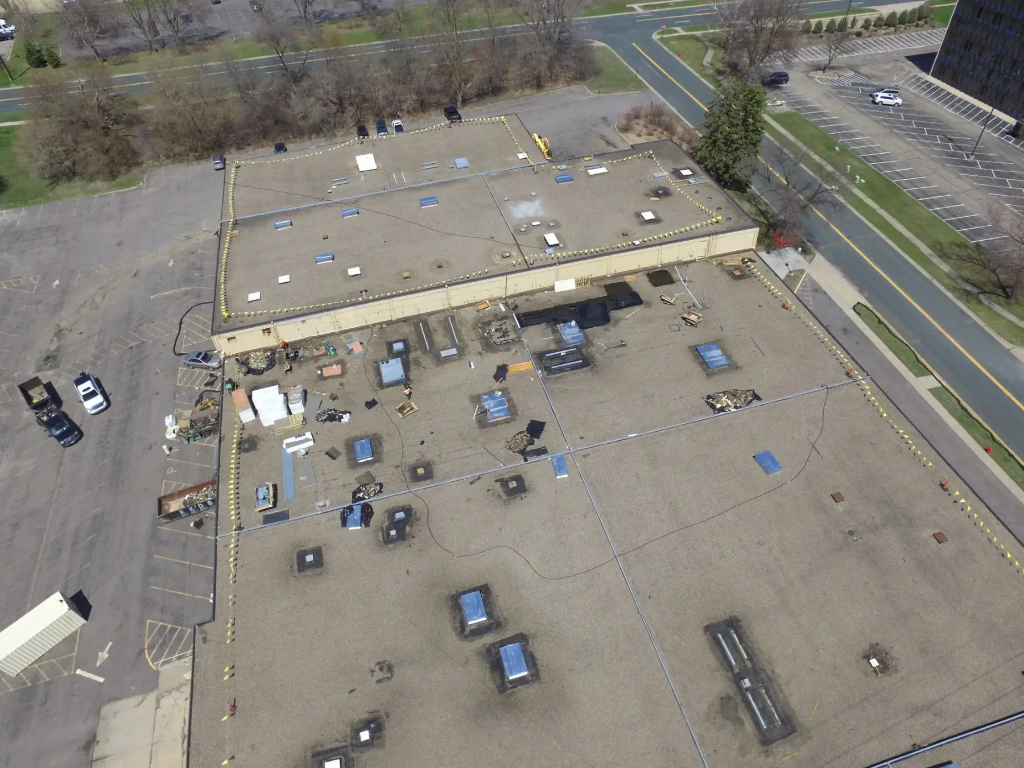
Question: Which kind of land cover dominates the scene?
buildings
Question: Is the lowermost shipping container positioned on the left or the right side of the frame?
left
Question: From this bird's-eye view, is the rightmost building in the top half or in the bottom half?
top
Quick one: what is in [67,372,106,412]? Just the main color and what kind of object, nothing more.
white truck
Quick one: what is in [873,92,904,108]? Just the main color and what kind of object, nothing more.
white car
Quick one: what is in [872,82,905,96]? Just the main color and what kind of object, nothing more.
gray car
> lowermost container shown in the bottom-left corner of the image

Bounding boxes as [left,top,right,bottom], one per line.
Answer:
[0,590,86,676]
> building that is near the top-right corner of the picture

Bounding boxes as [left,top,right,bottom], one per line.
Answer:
[929,0,1024,122]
